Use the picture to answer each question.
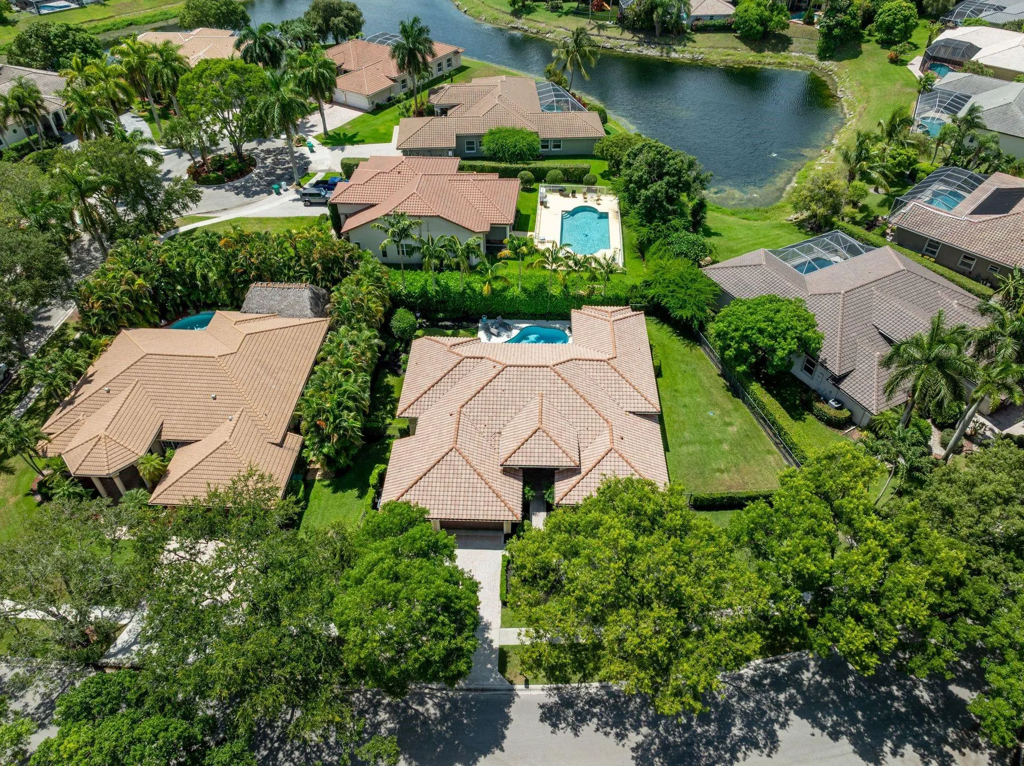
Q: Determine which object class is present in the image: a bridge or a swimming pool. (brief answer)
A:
swimming pool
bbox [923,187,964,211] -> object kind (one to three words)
swimming pool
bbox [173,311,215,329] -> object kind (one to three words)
swimming pool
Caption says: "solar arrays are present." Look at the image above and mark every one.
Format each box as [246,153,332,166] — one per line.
[904,182,1024,221]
